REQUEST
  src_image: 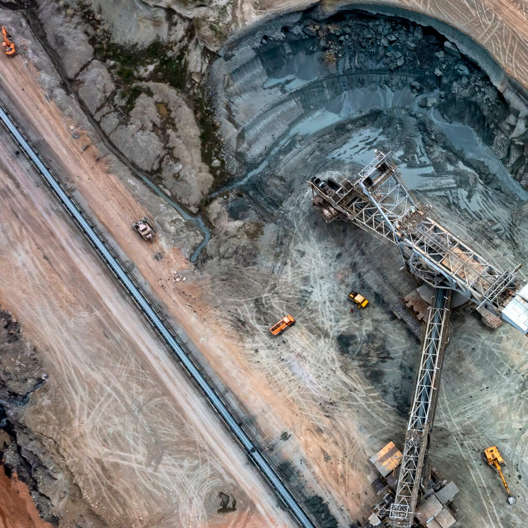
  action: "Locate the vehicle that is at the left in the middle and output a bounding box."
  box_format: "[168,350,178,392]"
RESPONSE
[127,216,155,245]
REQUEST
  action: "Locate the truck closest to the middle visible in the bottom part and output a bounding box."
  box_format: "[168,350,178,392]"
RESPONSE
[265,314,297,338]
